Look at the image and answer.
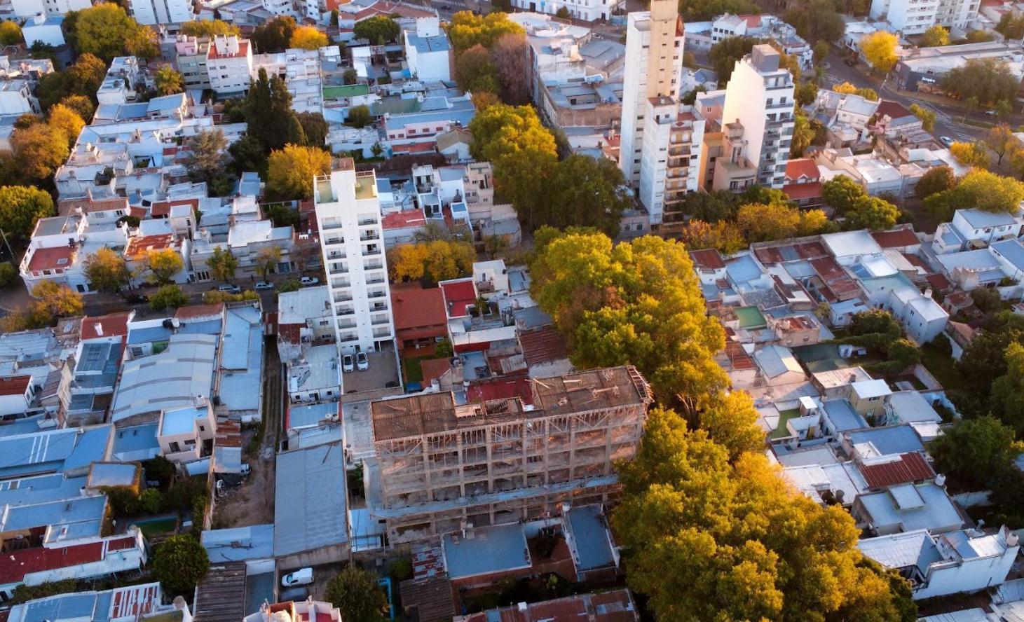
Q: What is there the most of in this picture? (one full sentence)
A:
The largest share of the image is taken up by buildings.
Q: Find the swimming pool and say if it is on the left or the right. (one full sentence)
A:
It is on the left.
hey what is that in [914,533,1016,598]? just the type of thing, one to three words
house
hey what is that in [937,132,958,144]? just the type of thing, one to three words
vehicle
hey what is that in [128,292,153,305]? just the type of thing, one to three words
vehicle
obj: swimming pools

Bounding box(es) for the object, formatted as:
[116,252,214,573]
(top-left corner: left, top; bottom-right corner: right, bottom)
[123,514,179,536]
